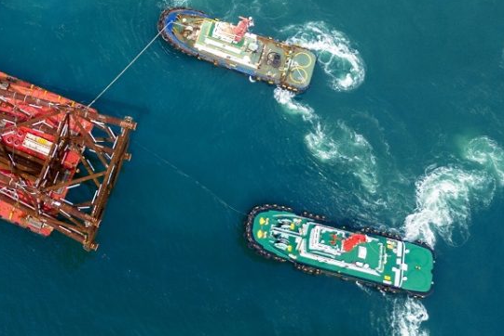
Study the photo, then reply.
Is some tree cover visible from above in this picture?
No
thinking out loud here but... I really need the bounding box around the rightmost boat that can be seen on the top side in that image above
[159,4,312,93]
